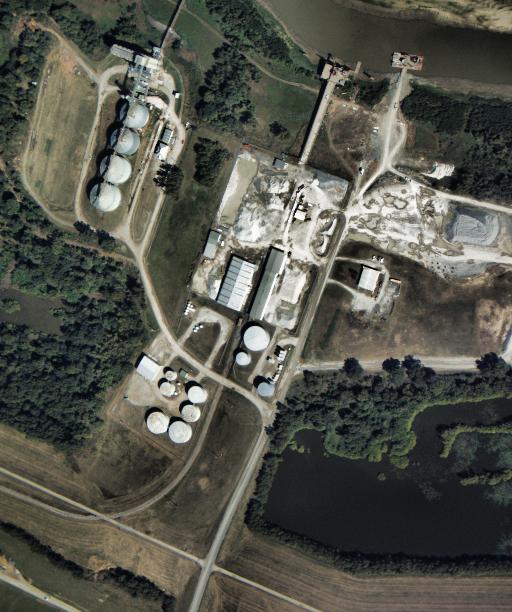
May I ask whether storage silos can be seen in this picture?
Yes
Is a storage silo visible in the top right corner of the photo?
No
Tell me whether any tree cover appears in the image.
Yes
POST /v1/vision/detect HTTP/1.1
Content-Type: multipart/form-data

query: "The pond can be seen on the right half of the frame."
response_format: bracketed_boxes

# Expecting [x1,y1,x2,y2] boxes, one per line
[264,394,512,558]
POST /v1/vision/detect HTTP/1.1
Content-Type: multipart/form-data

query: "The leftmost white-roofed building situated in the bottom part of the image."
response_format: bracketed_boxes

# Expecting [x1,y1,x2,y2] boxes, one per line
[136,356,161,381]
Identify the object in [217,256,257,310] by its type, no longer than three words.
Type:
barn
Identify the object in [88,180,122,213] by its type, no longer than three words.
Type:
silo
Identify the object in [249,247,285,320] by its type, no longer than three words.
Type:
shed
